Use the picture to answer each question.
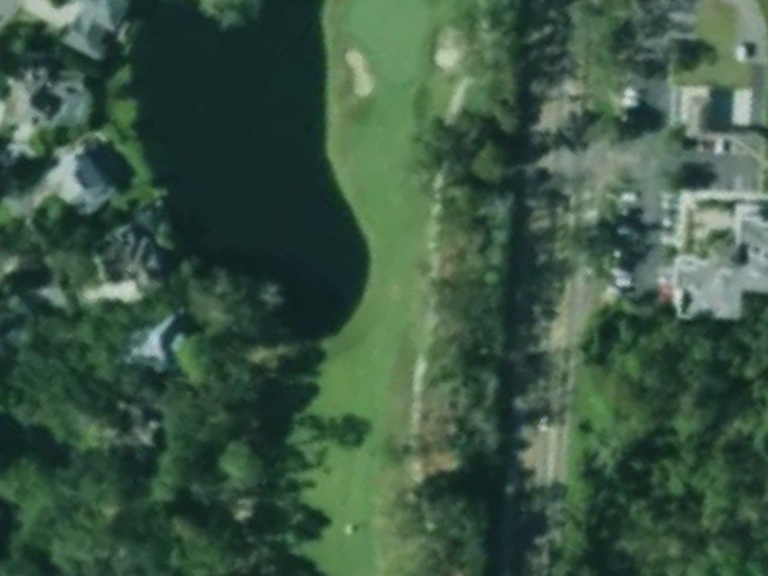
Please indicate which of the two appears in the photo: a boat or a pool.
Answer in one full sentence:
I can see a pool in this picture.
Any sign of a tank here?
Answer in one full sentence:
No, no tank is visible in the view.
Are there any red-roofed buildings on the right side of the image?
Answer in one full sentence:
No, I see no red-roofed building on the right side of the image.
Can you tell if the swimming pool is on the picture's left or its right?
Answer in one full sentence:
The swimming pool is on the right side of the image.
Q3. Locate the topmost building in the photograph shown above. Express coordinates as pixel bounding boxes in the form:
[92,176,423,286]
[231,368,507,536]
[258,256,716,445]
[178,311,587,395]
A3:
[62,0,130,54]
